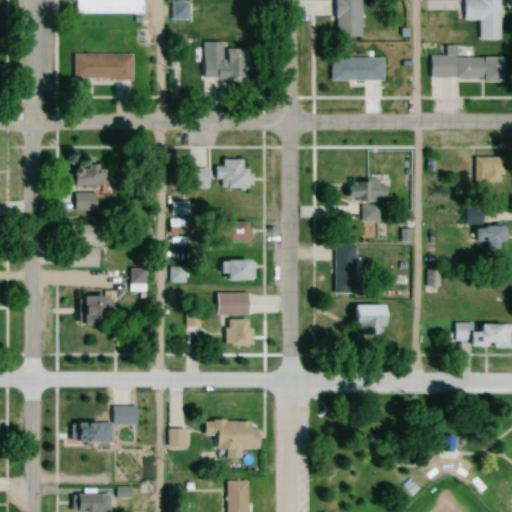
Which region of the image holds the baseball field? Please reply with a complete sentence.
The baseball field is in the bottom right part of the image.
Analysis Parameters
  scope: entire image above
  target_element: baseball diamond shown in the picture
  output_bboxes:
[404,477,491,512]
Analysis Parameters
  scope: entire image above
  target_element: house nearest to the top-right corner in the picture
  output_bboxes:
[466,0,503,40]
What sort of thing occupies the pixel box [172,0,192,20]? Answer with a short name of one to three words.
building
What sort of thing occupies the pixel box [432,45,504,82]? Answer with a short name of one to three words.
house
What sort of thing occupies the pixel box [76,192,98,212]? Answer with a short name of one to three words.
building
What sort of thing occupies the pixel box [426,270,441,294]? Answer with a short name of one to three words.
shed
